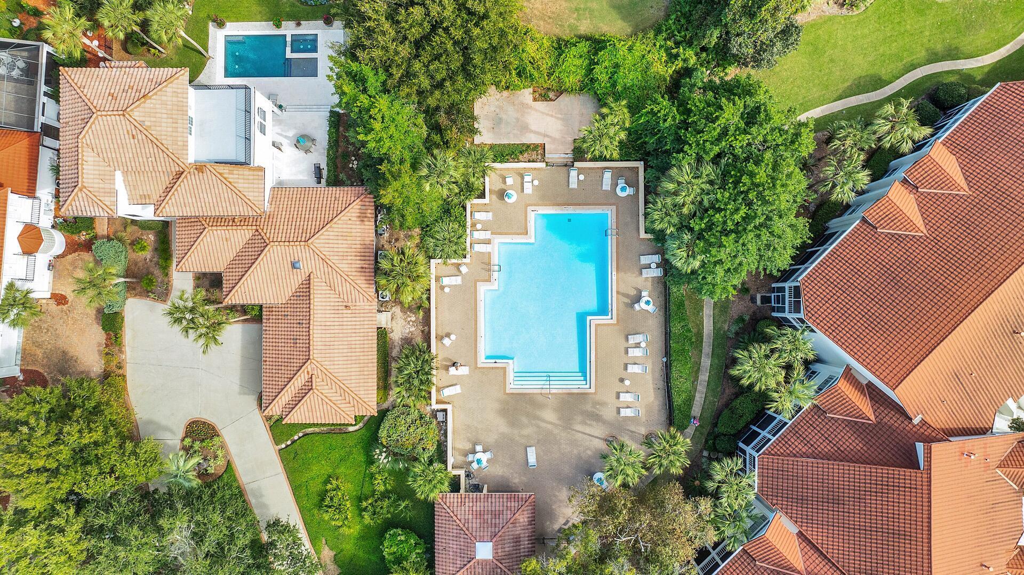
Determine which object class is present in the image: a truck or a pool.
pool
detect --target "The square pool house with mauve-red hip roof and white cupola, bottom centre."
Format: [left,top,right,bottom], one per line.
[434,489,536,575]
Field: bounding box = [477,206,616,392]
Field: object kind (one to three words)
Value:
swimming pool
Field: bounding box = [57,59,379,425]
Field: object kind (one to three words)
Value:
house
